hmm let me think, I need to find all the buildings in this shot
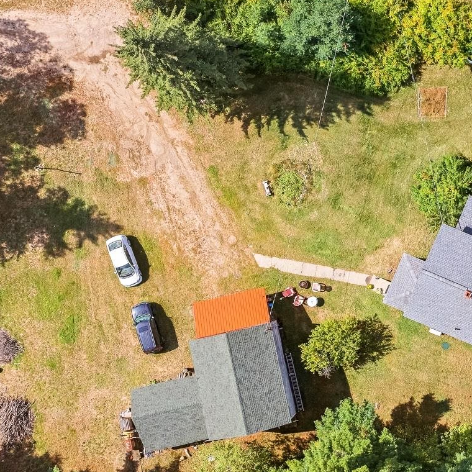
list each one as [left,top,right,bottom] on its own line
[132,288,298,451]
[382,194,472,342]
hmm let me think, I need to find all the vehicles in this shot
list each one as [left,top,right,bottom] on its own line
[134,299,168,353]
[107,235,143,288]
